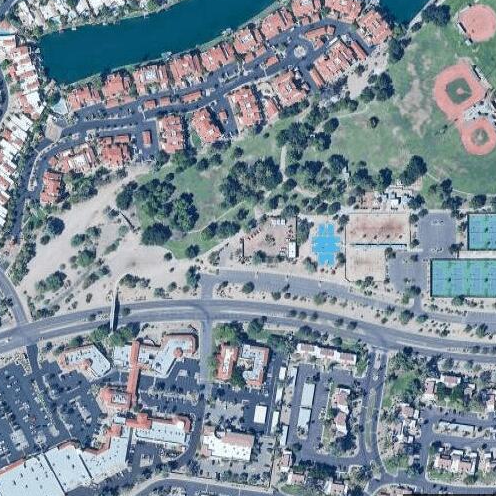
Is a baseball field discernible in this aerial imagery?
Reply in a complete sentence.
Yes, a baseball field can be made out from above.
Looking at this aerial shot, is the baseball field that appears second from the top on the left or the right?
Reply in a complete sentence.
The baseball field that appears second from the top sits on the right side.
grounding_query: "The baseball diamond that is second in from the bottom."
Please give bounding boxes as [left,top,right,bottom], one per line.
[434,63,488,122]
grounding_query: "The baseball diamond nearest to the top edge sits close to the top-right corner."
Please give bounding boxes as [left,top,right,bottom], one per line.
[458,4,496,45]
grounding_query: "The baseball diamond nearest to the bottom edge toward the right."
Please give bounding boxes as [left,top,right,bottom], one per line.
[461,117,496,154]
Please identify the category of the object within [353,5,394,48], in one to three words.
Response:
building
